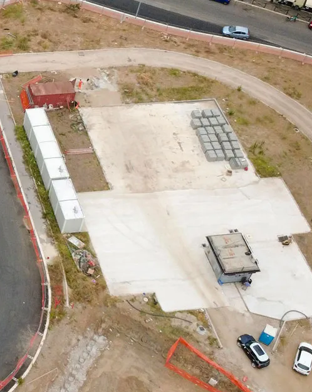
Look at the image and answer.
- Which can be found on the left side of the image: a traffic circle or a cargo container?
cargo container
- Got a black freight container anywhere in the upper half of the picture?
No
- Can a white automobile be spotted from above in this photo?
Yes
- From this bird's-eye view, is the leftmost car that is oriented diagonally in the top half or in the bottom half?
bottom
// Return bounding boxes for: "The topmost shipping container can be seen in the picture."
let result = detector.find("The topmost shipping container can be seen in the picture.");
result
[25,81,76,107]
